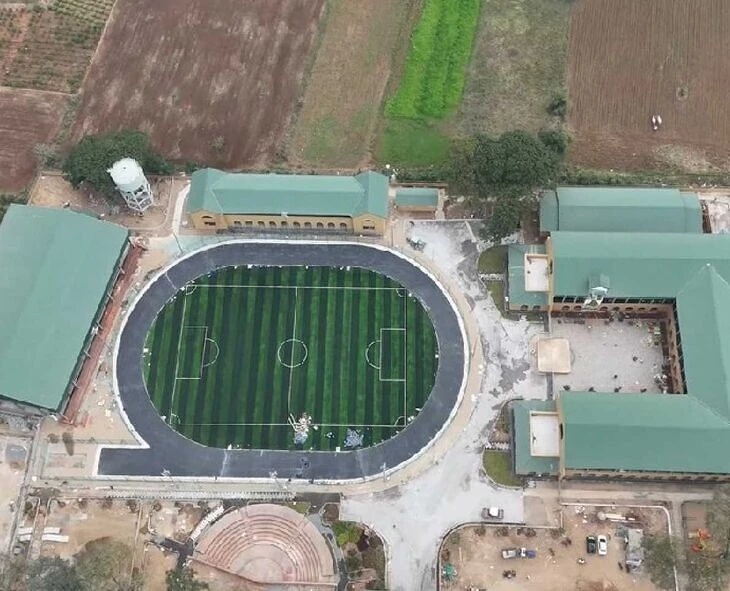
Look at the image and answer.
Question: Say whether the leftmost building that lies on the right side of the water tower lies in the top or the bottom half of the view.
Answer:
top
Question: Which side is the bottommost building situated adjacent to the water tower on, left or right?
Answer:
left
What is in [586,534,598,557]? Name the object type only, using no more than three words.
vehicle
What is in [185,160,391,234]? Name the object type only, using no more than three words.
building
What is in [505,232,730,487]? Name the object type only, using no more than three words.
building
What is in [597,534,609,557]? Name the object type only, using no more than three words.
vehicle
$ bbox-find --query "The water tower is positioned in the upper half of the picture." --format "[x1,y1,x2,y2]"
[107,158,154,215]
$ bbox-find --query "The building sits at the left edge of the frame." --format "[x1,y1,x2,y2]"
[0,207,134,425]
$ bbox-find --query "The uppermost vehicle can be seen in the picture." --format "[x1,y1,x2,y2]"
[482,507,507,519]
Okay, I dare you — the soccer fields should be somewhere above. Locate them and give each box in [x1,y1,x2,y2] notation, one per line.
[145,264,440,451]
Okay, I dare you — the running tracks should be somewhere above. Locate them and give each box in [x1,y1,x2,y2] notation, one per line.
[92,239,471,482]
